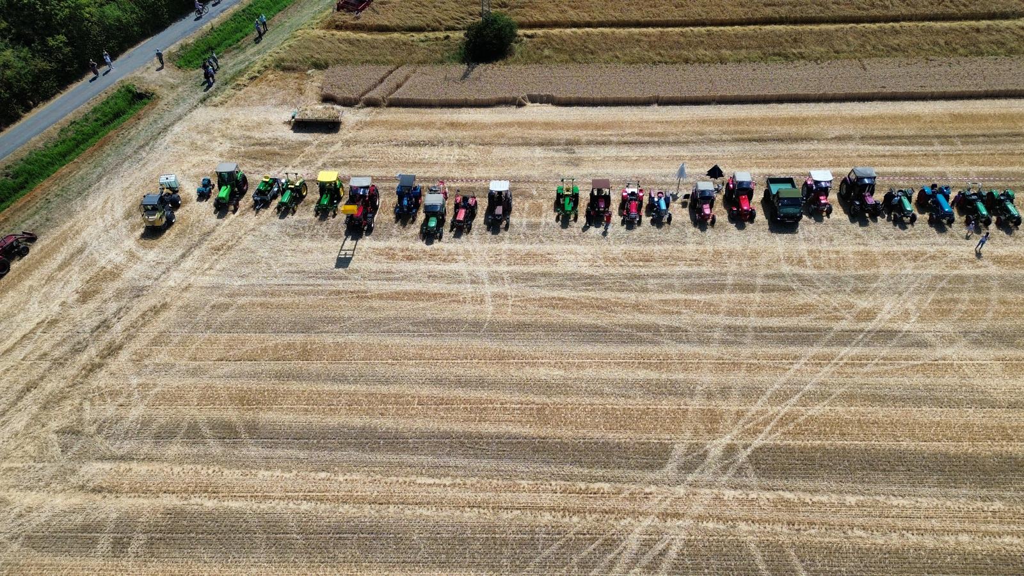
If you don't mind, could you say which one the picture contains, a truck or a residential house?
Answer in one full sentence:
I can see a truck in this picture.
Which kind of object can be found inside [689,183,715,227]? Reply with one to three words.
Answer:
work vehicle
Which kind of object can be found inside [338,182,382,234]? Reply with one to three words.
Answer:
work vehicle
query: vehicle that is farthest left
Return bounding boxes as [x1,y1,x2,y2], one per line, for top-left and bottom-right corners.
[0,231,44,277]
